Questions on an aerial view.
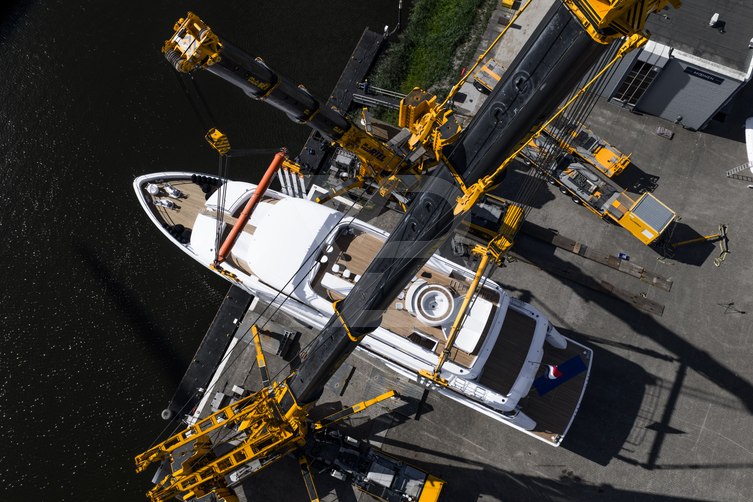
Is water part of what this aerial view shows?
Yes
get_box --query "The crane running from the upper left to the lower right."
[159,1,507,254]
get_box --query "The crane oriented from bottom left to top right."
[125,0,683,502]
